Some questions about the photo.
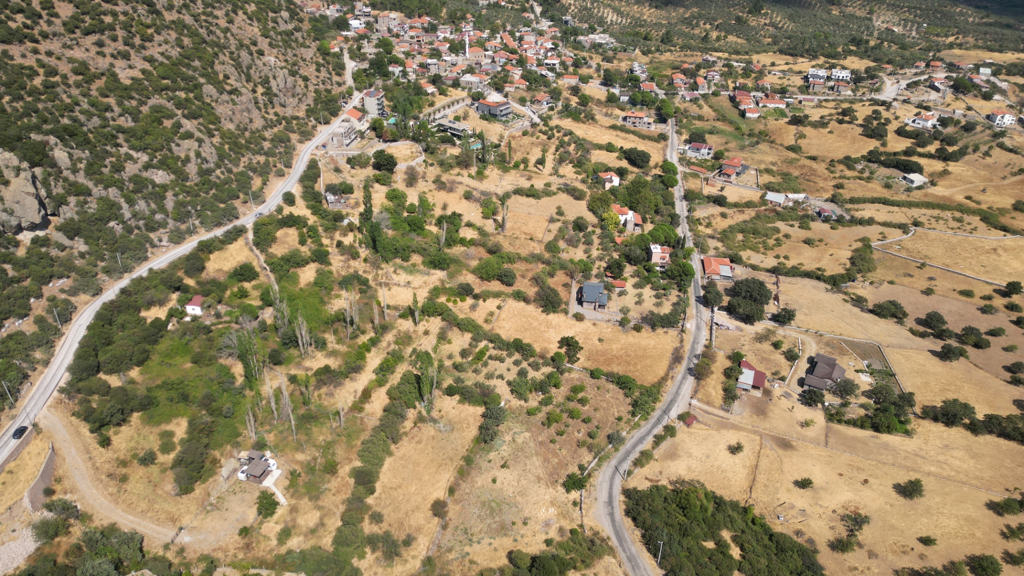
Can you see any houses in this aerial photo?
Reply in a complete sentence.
Yes, the picture does show a house.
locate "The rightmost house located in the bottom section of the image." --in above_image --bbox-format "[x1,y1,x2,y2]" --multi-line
[802,352,842,393]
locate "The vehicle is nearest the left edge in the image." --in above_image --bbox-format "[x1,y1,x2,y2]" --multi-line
[8,424,30,438]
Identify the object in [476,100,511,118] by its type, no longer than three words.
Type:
house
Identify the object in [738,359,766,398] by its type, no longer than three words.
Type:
barn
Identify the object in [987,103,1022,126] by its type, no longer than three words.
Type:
house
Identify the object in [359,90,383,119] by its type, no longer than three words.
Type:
building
